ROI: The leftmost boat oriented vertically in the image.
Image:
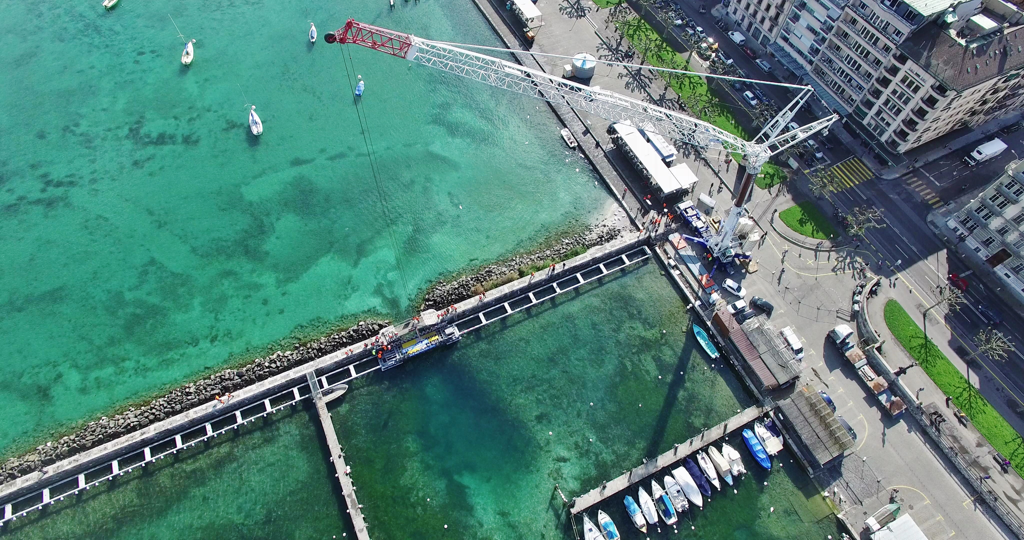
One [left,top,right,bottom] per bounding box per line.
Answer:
[173,21,194,70]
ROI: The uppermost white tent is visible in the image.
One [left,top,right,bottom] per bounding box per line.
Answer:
[514,0,542,28]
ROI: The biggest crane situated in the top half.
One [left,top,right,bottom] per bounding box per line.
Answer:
[327,11,840,330]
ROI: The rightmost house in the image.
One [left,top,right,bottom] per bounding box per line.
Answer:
[948,153,1024,303]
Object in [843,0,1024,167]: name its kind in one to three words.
building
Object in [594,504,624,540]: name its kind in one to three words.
boat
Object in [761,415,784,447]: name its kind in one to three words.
boat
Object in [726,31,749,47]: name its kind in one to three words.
vehicle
